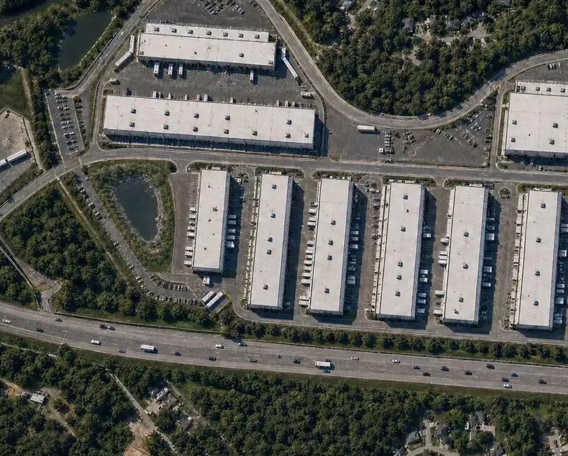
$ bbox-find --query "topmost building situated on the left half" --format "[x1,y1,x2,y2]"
[136,24,280,71]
